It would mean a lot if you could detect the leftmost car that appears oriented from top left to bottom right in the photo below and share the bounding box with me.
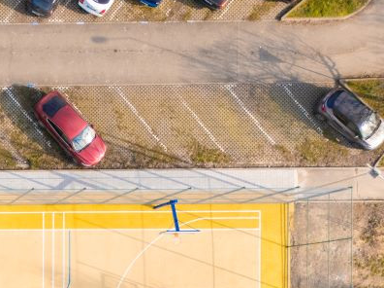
[41,90,110,167]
